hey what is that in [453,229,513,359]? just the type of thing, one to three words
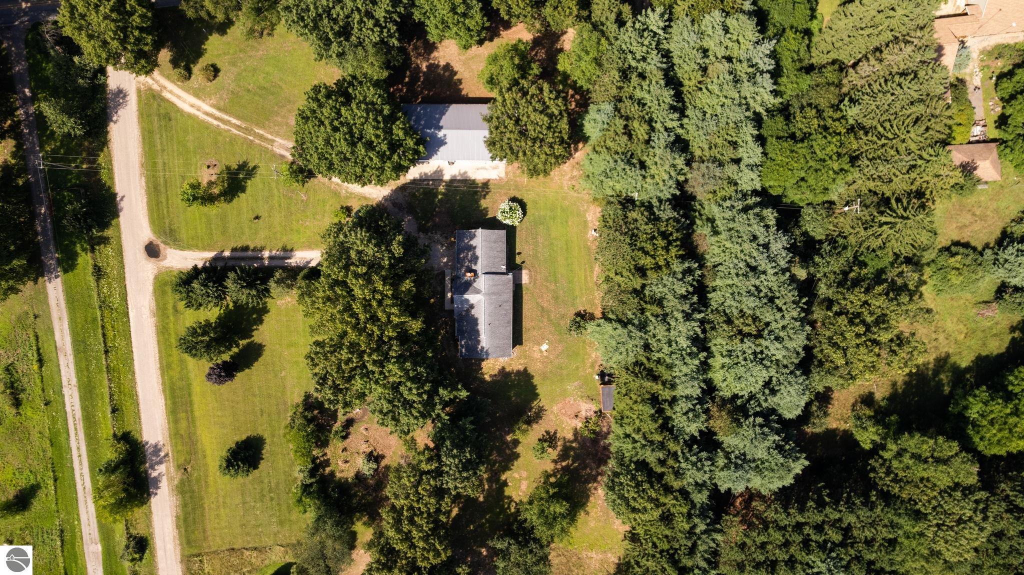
house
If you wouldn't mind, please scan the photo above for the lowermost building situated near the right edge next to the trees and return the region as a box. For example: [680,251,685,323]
[940,143,1002,182]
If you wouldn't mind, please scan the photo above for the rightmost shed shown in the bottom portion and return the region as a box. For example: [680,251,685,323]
[601,385,616,412]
